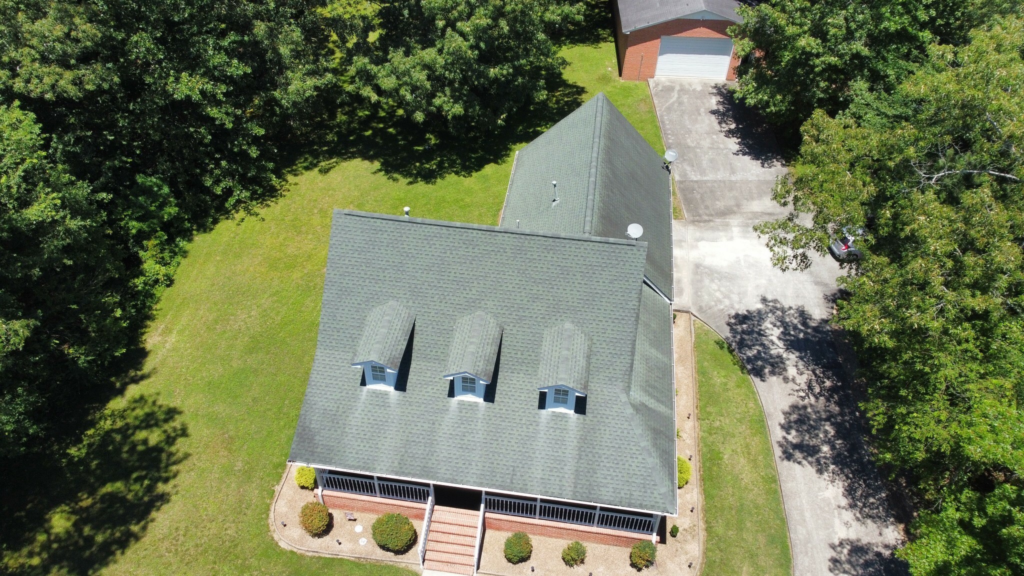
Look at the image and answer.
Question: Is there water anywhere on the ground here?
No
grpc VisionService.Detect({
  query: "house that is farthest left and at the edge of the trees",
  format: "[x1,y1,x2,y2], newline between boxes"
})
[288,91,676,576]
